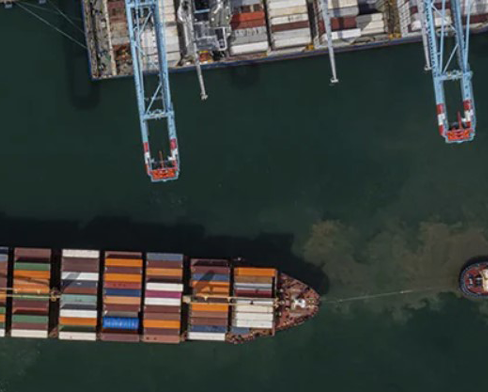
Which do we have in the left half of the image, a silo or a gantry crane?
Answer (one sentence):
The one visible in the left half of the image is a gantry crane.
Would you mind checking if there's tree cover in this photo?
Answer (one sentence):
No, no tree cover is visible.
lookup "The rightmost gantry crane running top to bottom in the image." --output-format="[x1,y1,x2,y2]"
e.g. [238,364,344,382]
[425,0,479,144]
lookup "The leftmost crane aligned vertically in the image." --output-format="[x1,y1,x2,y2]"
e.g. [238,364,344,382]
[124,0,182,183]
